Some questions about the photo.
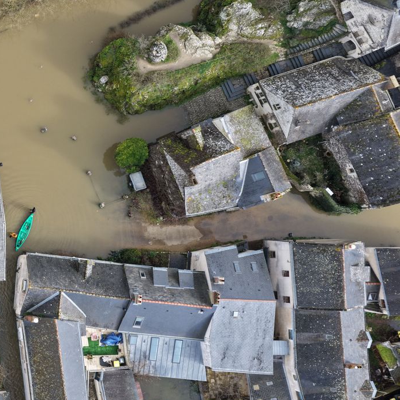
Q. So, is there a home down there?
Yes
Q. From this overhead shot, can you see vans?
No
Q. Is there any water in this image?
Yes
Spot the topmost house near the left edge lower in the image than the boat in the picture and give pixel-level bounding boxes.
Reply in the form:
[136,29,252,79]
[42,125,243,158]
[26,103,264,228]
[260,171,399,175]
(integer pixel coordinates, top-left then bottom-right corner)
[15,251,131,329]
